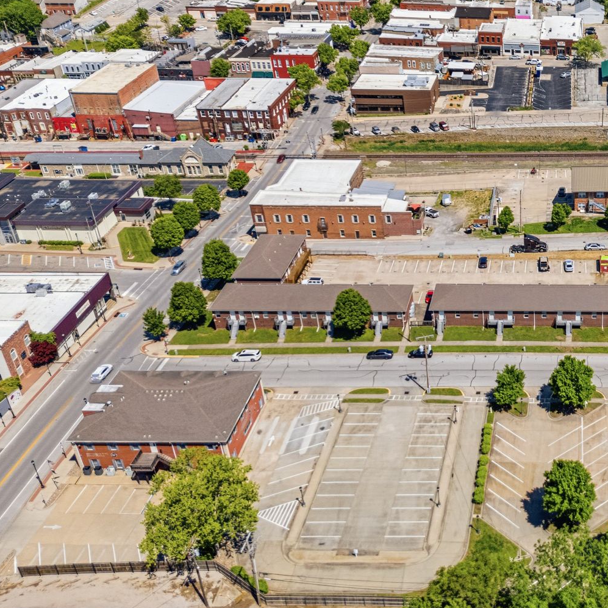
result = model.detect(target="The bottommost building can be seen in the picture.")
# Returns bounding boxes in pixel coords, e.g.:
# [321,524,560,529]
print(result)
[69,371,264,481]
